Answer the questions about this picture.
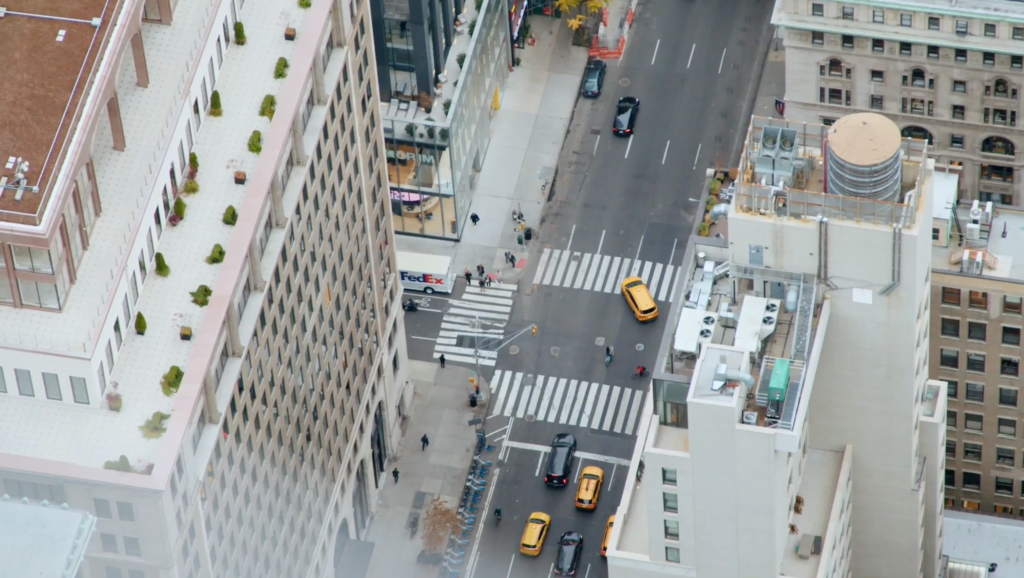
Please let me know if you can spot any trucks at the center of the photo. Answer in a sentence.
Yes, a truck shows up at the center of the photo.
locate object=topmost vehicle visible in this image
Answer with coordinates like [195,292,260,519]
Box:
[582,52,614,95]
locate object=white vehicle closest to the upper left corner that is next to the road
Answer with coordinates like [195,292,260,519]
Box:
[397,249,457,294]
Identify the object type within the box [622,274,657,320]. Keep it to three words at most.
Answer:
car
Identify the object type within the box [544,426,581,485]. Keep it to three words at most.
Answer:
car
